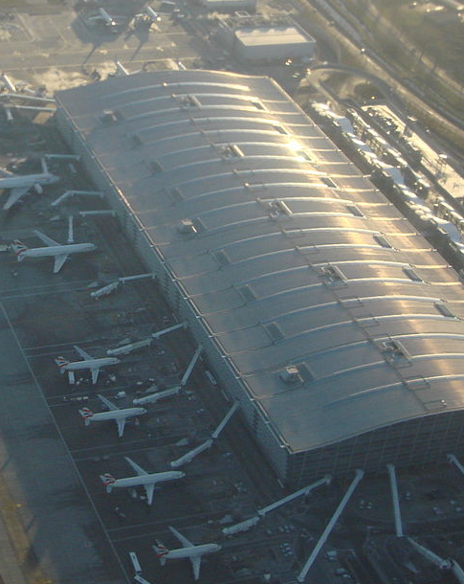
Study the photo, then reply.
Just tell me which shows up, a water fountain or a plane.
plane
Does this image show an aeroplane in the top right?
No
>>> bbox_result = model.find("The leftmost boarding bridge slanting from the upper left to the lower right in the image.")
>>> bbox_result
[387,463,452,573]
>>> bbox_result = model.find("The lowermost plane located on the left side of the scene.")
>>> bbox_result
[151,529,220,580]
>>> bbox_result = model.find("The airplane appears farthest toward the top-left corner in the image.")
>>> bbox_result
[0,75,32,95]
